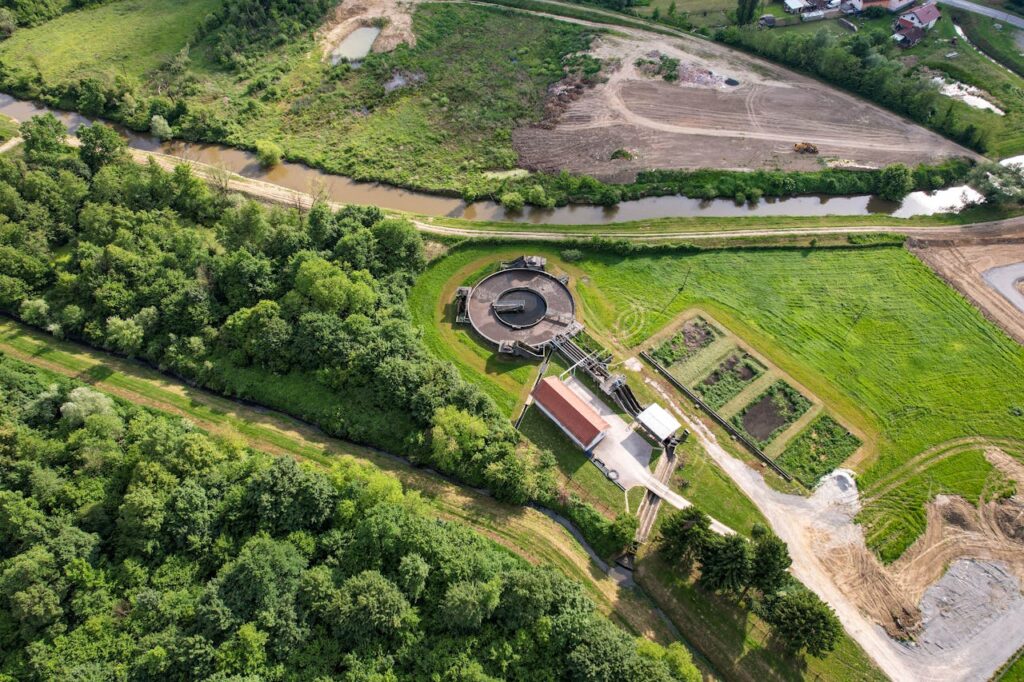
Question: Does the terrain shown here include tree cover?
Yes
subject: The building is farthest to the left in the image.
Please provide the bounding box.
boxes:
[530,375,612,452]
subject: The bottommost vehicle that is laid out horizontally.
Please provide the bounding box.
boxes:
[792,141,819,153]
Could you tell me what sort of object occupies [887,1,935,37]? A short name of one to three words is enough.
house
